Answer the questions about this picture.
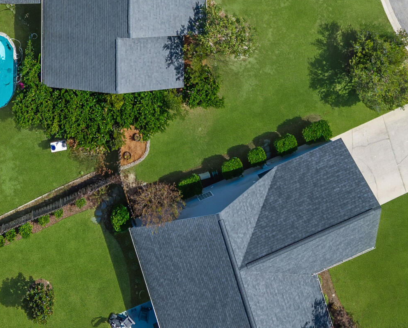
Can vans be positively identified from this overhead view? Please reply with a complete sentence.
No, the photo shows no van.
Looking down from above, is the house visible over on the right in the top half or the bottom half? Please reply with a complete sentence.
The house visible over on the right is in the bottom half of the image.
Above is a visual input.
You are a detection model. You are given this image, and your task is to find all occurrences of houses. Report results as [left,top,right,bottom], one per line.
[0,0,209,95]
[128,140,381,328]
